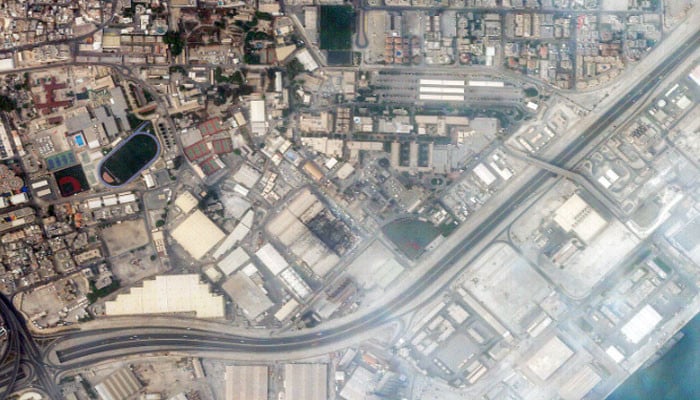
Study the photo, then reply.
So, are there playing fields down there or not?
Yes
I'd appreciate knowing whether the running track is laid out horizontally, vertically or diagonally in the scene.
diagonally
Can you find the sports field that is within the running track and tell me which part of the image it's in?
left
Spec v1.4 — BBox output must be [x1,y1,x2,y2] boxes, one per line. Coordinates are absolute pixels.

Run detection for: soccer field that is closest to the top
[320,5,355,50]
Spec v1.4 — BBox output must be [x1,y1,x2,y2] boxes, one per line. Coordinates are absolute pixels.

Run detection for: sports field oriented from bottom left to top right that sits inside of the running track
[100,134,158,185]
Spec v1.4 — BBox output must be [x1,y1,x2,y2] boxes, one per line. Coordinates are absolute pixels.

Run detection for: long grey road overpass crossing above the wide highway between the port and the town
[501,142,643,240]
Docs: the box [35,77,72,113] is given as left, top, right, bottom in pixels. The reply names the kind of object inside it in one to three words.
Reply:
building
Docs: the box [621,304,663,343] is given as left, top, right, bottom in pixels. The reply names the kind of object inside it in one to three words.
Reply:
building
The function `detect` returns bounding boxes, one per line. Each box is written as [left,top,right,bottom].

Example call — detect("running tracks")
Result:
[98,120,160,187]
